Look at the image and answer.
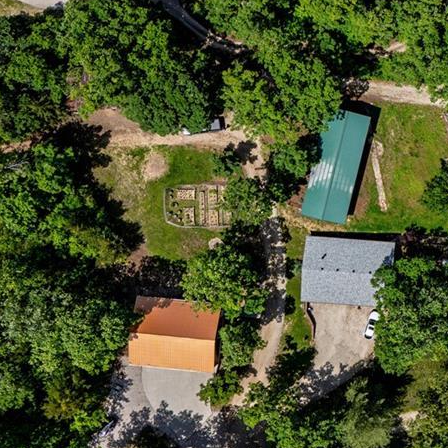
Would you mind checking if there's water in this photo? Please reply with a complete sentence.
No, there is no water in the image.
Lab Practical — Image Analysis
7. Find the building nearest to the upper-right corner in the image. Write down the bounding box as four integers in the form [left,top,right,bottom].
[302,111,370,223]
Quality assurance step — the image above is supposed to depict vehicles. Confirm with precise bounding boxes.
[182,118,223,138]
[362,310,379,342]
